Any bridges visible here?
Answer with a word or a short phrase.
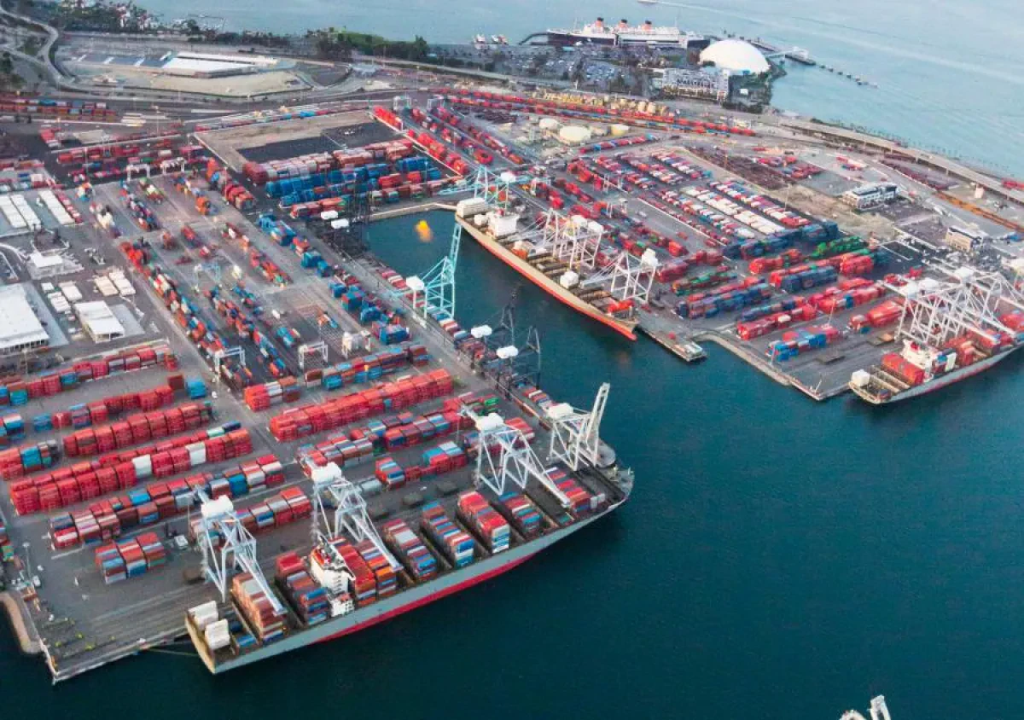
Yes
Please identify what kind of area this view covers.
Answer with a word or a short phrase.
port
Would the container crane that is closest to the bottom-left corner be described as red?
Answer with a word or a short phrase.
No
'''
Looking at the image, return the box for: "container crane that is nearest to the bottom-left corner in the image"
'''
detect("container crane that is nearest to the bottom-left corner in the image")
[196,497,294,620]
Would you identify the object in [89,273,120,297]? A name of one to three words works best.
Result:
building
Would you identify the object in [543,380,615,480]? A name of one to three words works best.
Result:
container crane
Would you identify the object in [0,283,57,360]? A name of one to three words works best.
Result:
building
